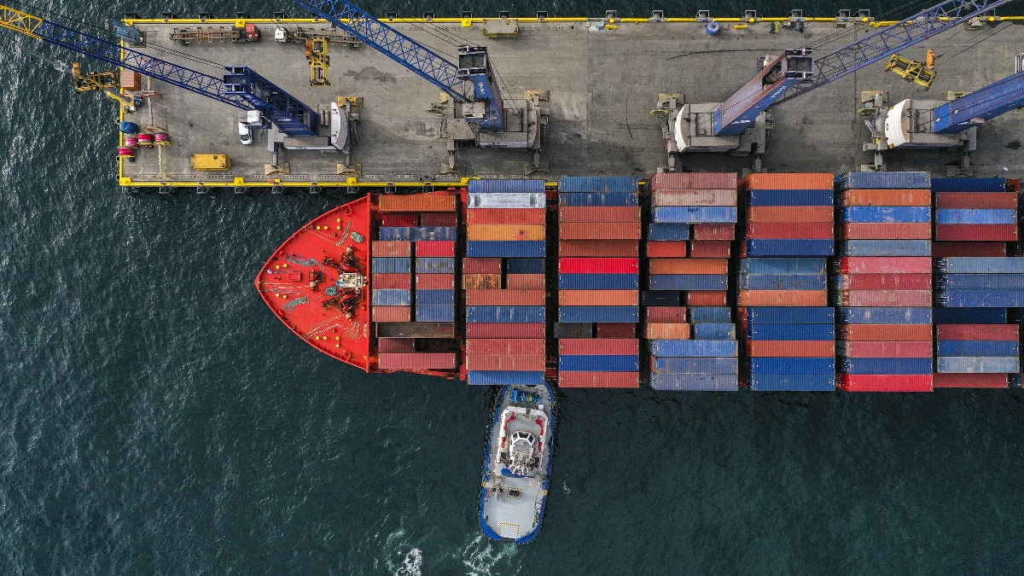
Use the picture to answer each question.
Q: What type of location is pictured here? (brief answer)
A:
port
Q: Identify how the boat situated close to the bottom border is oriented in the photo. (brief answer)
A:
from top to bottom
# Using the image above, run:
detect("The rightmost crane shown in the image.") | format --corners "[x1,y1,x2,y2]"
[855,57,1024,175]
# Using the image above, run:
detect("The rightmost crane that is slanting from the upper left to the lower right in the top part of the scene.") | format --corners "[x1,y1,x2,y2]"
[255,0,552,173]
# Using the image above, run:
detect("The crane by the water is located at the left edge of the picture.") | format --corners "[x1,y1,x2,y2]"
[0,0,362,173]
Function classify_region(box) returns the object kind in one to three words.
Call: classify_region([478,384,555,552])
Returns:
boat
